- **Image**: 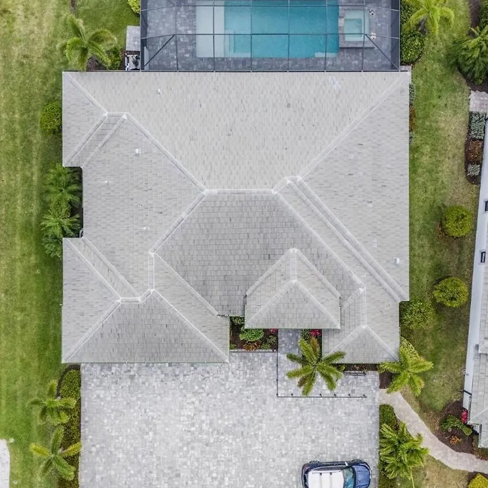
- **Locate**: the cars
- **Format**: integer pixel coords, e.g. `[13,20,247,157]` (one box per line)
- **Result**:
[302,457,372,488]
